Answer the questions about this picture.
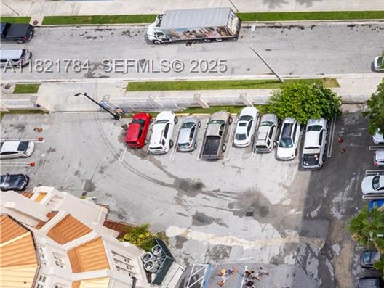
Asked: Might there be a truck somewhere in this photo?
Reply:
Yes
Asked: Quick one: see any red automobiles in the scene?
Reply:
Yes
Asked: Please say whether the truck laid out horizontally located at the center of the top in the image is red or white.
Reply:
white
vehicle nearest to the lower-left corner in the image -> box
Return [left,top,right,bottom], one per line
[0,171,34,192]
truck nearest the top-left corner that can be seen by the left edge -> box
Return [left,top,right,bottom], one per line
[0,22,31,45]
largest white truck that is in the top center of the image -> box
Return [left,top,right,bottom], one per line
[144,7,239,49]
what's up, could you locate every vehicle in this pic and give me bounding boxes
[360,248,384,268]
[368,195,384,212]
[373,130,384,147]
[0,137,40,162]
[370,151,384,170]
[361,172,384,196]
[276,119,304,161]
[144,7,239,49]
[301,120,329,170]
[0,46,32,70]
[128,115,157,150]
[233,110,261,149]
[0,22,31,45]
[200,113,235,161]
[178,119,204,154]
[148,113,180,155]
[254,116,283,155]
[0,171,34,192]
